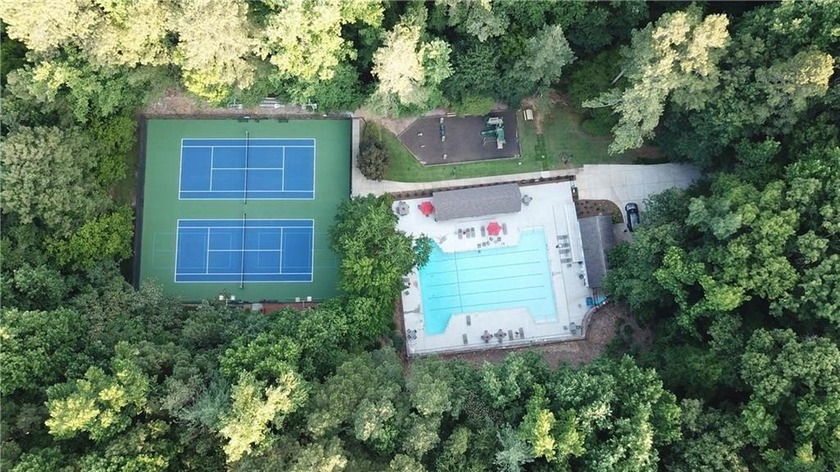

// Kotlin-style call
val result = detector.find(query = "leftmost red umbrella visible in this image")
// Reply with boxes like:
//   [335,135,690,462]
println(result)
[420,200,434,214]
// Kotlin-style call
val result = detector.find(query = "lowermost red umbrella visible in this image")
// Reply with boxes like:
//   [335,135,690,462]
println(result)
[488,220,502,234]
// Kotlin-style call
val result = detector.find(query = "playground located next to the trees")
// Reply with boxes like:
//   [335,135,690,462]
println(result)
[395,108,522,166]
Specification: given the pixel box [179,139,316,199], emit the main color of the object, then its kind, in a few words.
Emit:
blue tennis court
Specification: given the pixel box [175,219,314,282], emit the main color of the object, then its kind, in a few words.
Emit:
blue tennis court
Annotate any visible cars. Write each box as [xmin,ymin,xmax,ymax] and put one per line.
[624,204,640,231]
